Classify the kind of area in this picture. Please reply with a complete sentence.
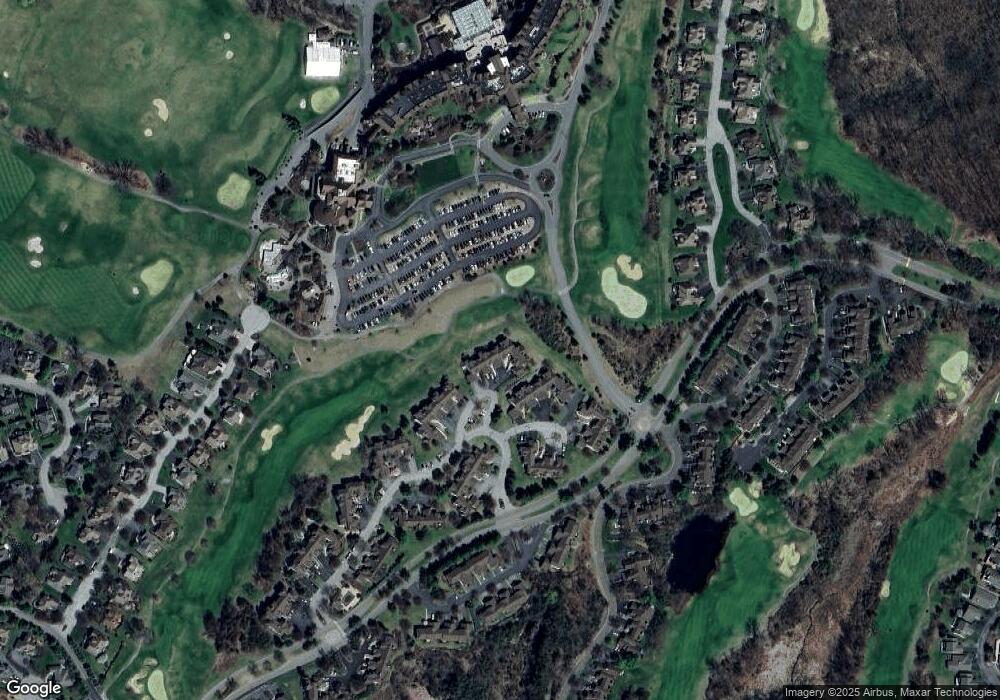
It's a golf course.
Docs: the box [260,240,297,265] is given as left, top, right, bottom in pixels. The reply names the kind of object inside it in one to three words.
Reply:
building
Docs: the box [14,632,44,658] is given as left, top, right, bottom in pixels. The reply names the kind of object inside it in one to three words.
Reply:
house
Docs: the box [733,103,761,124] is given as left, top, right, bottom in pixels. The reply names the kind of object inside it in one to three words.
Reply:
house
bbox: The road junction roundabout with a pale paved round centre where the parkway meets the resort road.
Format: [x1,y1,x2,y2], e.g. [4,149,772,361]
[622,405,673,442]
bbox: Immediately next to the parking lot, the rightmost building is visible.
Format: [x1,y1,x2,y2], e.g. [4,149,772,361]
[367,0,569,134]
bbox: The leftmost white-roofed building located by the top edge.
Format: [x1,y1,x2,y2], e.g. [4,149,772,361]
[306,34,340,73]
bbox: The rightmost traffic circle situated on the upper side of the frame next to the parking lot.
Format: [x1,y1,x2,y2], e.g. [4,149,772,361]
[529,160,563,200]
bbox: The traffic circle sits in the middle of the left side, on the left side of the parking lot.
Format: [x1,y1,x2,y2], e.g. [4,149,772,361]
[242,305,271,334]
